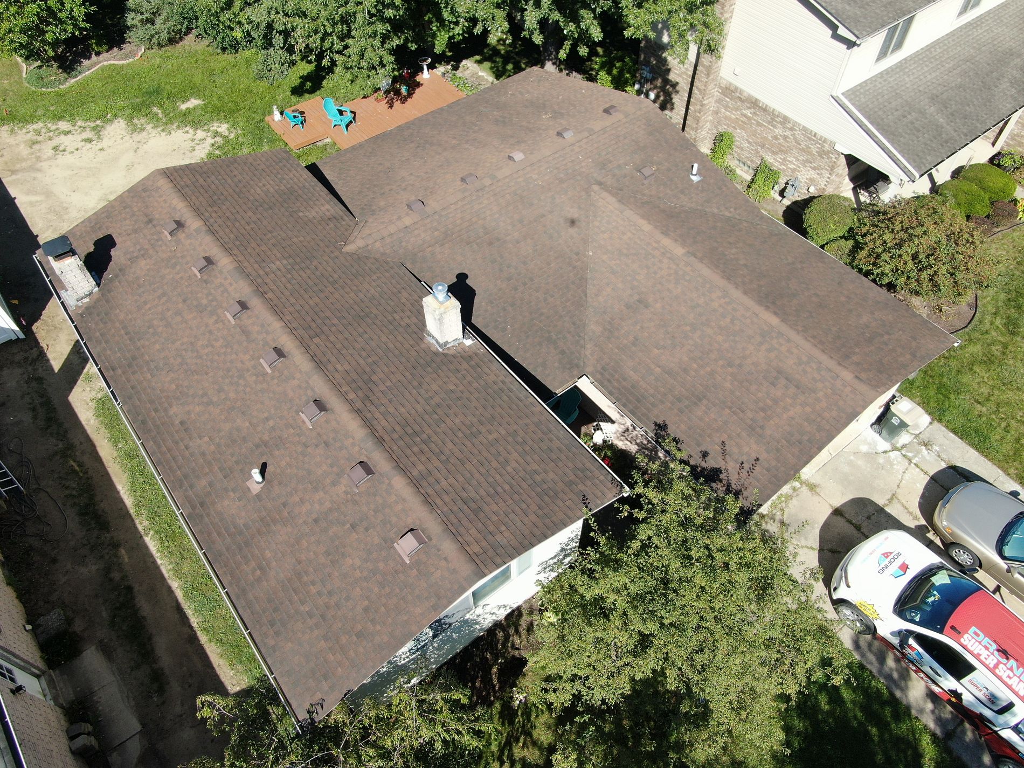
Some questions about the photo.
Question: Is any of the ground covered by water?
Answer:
No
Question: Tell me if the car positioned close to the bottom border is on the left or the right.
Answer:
right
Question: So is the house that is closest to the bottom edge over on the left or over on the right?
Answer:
left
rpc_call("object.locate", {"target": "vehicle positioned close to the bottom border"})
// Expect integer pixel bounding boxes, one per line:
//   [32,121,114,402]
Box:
[831,529,1024,768]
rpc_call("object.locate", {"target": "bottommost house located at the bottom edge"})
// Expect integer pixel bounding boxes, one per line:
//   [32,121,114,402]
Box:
[0,541,93,768]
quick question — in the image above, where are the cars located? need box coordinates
[923,477,1024,602]
[831,529,1024,768]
